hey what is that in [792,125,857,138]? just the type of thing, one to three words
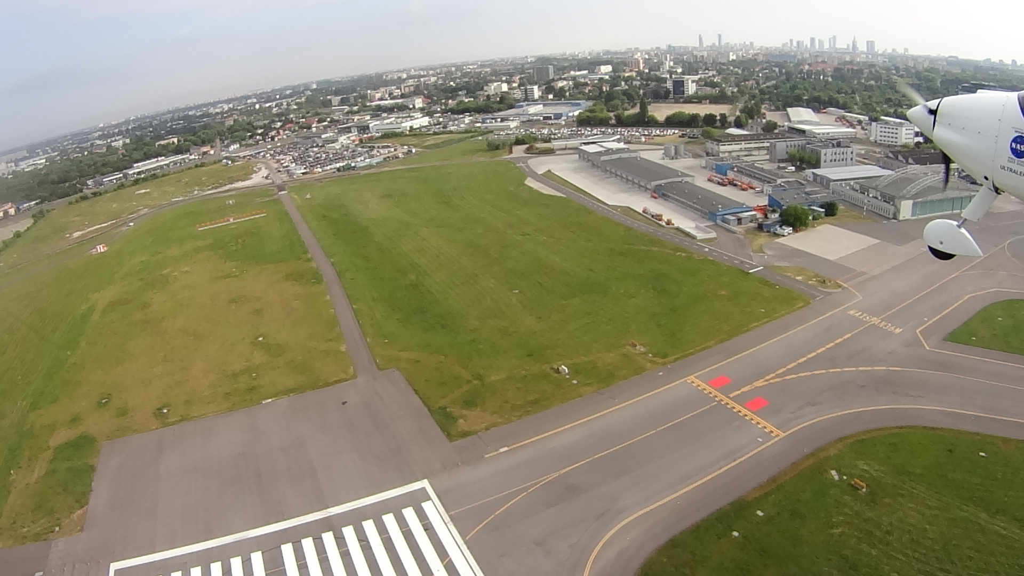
building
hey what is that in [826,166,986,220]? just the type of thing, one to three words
hangar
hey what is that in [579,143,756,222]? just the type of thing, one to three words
building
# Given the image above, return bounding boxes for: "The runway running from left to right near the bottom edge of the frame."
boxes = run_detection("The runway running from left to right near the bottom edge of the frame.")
[76,448,548,576]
